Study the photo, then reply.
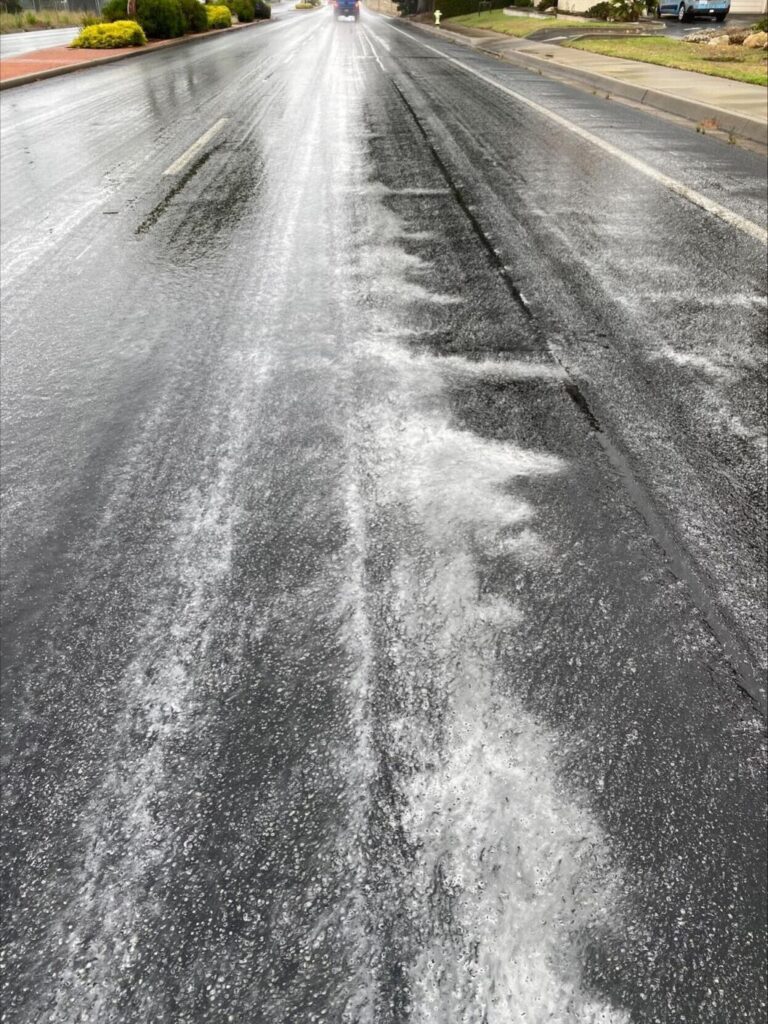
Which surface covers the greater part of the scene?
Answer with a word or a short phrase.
paved ground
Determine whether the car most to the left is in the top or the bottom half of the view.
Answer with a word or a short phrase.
top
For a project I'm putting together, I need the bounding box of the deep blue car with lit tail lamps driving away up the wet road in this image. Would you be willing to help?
[332,0,360,21]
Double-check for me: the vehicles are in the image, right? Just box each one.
[652,0,735,22]
[332,0,360,21]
